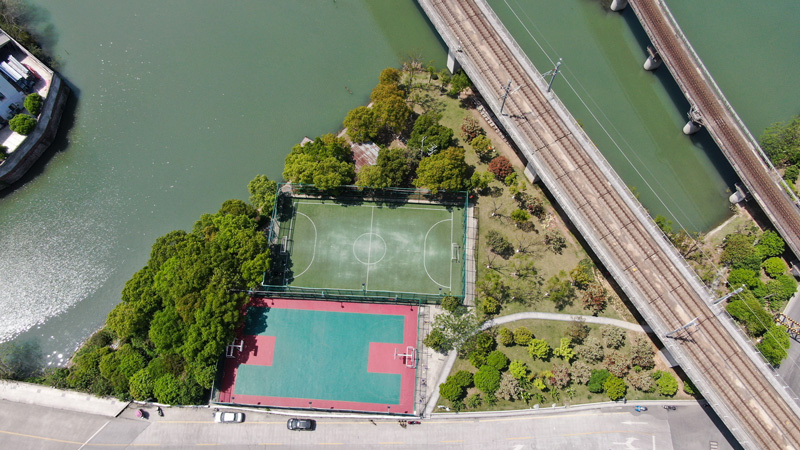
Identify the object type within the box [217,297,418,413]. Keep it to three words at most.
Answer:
basketball court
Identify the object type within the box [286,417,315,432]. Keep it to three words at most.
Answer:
car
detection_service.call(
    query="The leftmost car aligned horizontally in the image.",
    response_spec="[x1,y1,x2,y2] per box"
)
[215,410,245,424]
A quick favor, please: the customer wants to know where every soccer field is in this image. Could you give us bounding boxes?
[273,198,462,303]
